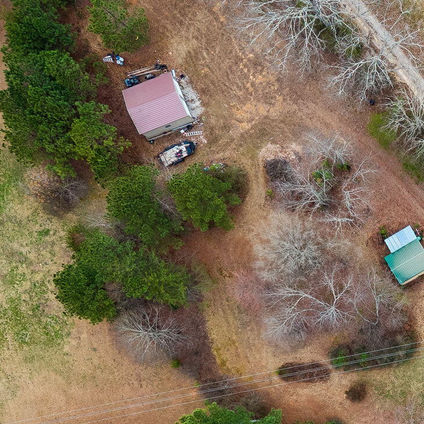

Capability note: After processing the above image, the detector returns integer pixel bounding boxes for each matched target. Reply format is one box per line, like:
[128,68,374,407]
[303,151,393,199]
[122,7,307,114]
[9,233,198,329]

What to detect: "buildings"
[378,227,424,285]
[122,72,194,140]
